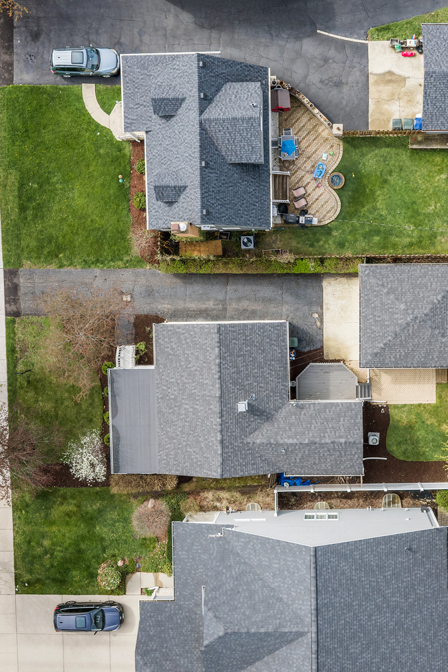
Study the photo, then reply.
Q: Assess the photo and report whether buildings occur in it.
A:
Yes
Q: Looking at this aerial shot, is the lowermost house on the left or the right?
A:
right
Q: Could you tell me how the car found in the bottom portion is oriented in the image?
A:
horizontally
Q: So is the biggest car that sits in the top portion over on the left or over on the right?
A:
left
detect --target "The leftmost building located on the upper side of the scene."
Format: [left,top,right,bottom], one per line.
[120,51,272,244]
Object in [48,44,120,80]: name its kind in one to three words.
car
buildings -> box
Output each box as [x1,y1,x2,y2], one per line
[421,23,448,136]
[359,263,448,368]
[109,320,364,479]
[120,51,272,244]
[136,507,448,672]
